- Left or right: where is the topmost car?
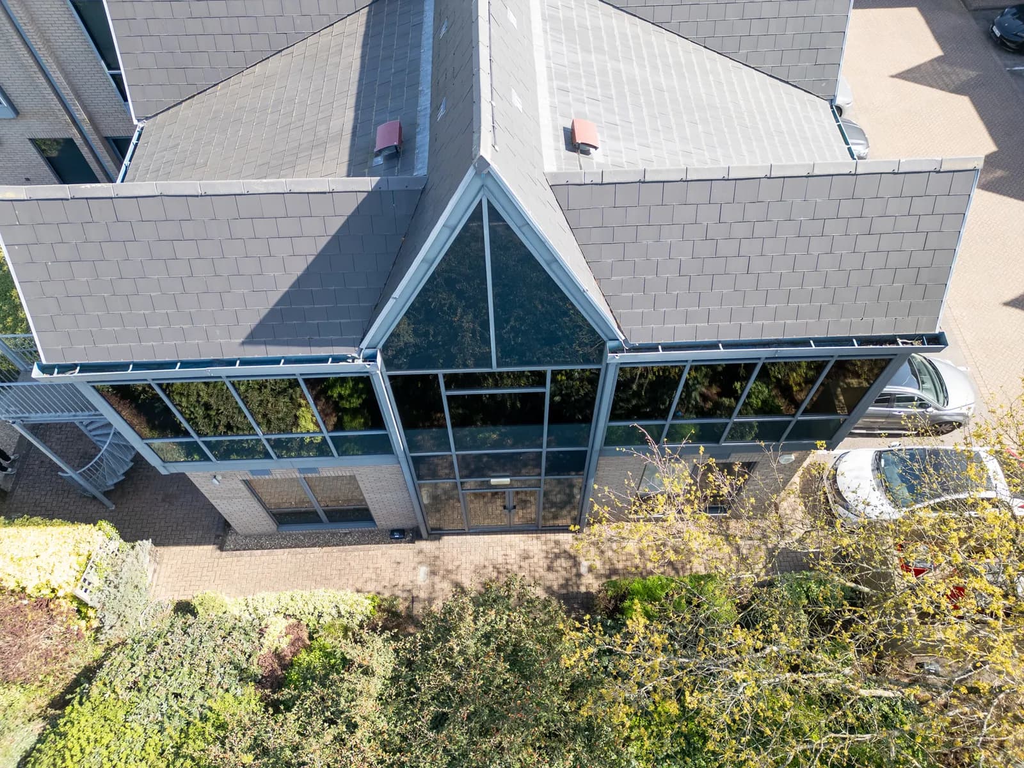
right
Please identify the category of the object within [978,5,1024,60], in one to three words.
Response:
car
